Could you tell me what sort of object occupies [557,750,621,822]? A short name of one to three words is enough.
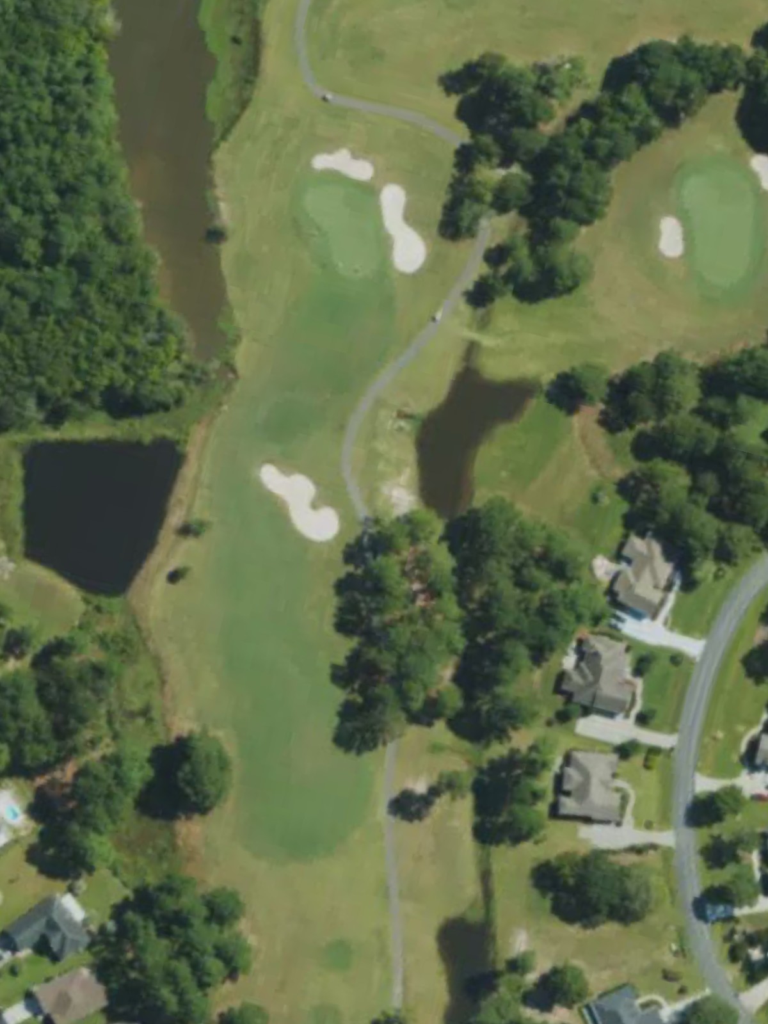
house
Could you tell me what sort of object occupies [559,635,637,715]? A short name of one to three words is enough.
house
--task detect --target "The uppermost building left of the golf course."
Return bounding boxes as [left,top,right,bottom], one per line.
[0,893,92,966]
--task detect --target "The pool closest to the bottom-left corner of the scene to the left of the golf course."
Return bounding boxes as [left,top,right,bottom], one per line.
[0,789,25,847]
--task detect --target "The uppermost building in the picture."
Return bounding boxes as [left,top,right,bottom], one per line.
[607,531,672,620]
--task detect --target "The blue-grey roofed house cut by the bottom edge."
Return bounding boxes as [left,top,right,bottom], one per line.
[586,985,672,1024]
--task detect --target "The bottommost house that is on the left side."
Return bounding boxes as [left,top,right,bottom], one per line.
[33,964,109,1024]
